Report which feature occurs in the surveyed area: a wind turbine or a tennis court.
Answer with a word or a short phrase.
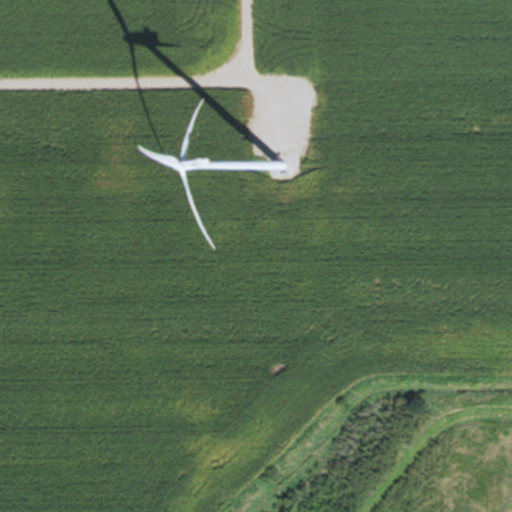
wind turbine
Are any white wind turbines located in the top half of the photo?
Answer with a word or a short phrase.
Yes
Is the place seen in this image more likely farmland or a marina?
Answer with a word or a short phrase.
farmland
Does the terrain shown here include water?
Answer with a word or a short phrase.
No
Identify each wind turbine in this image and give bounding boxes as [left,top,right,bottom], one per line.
[138,98,290,248]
